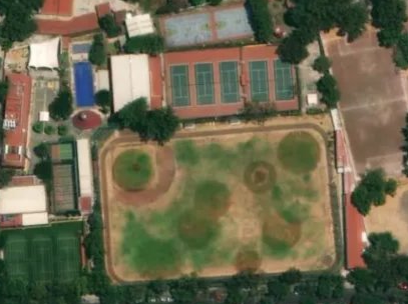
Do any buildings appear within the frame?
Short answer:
Yes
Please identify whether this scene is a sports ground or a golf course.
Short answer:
sports ground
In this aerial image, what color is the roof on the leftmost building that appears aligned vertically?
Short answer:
red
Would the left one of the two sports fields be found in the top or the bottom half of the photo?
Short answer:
bottom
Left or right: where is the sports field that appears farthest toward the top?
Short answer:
right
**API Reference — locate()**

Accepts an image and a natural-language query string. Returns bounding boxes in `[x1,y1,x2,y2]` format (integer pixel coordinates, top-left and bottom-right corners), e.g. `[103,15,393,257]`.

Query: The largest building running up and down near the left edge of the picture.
[3,74,34,172]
